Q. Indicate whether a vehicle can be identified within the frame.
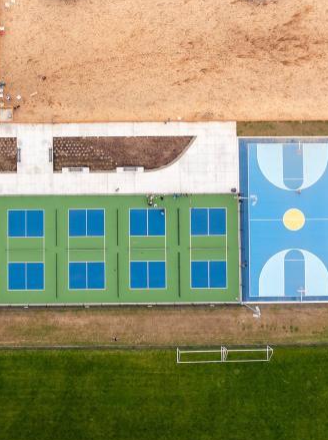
No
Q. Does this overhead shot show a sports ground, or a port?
sports ground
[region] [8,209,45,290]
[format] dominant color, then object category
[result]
blue sports court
